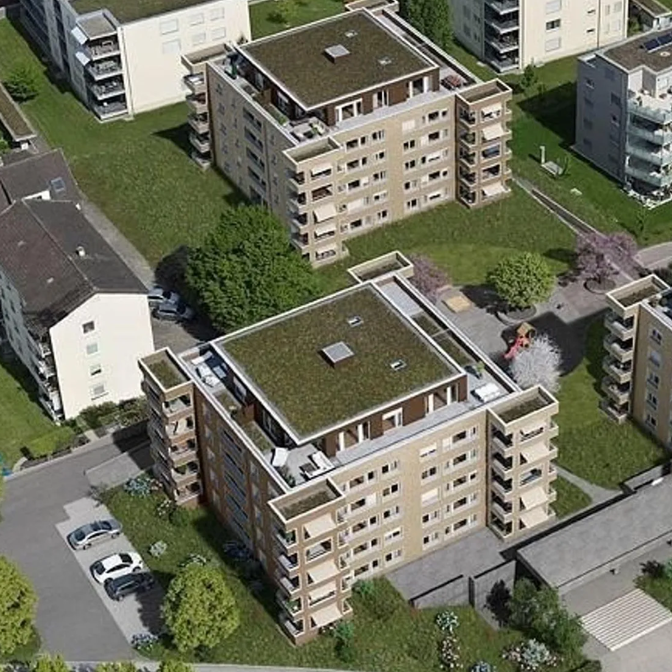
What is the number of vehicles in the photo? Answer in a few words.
five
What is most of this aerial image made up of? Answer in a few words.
buildings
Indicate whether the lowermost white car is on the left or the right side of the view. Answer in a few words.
left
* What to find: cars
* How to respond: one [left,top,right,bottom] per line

[150,297,194,321]
[89,549,143,576]
[102,567,157,598]
[67,517,120,545]
[142,278,182,299]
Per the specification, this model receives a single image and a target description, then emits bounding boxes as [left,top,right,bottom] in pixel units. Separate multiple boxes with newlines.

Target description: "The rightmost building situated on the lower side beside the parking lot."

[137,250,559,642]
